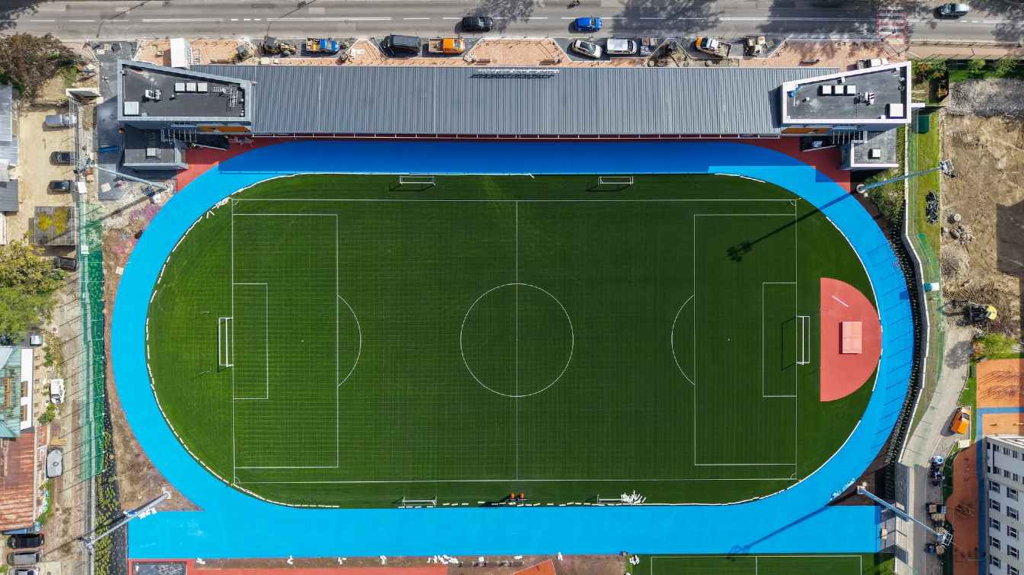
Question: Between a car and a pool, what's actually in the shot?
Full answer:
Looking from above, you can make out a car.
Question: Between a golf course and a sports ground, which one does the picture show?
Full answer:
What you see here is a sports ground.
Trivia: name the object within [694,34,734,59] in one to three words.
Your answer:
truck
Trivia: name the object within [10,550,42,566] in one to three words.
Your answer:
car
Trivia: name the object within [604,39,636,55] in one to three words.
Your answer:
vehicle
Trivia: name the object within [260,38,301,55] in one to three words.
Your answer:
work vehicle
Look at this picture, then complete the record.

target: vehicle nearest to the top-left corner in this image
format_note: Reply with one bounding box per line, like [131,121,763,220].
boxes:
[44,113,78,128]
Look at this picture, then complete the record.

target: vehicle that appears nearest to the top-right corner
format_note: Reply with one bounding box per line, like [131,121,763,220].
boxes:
[936,2,969,17]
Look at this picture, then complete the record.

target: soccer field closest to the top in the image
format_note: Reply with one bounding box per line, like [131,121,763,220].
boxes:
[144,173,882,507]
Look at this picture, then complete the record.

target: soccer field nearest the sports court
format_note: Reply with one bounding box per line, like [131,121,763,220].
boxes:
[629,553,896,575]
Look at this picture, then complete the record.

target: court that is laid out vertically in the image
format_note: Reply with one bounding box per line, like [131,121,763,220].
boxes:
[945,358,1024,575]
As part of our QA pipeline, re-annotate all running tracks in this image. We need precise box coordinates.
[112,136,914,575]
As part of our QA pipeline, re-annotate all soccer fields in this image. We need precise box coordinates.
[629,553,896,575]
[144,173,882,507]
